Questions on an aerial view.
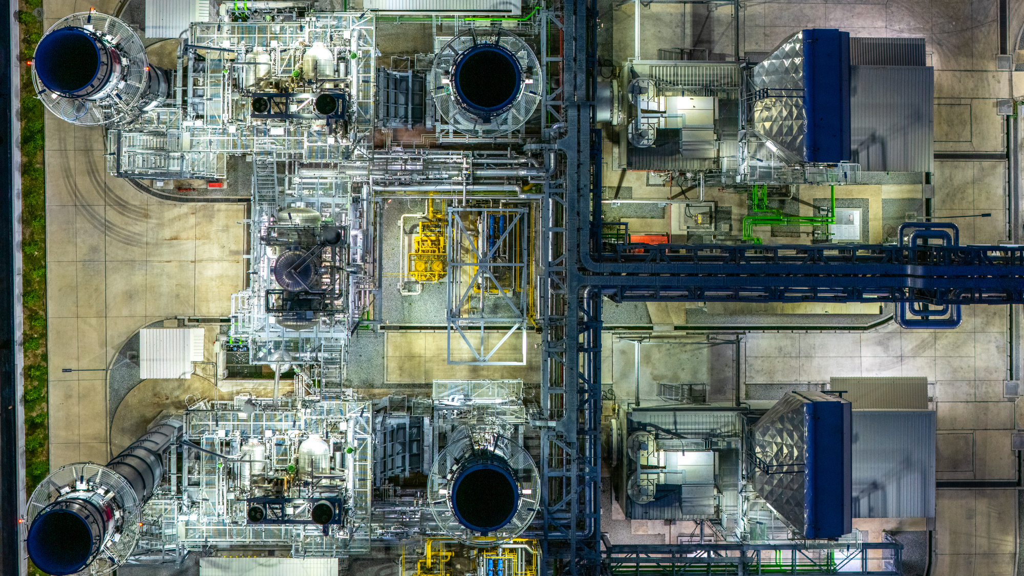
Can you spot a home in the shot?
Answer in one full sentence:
Yes, a home appears in the view.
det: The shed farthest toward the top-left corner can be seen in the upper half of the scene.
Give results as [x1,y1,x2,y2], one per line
[145,0,214,41]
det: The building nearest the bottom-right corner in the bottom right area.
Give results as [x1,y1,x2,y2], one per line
[851,406,935,517]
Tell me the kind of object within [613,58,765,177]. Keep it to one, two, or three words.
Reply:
house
